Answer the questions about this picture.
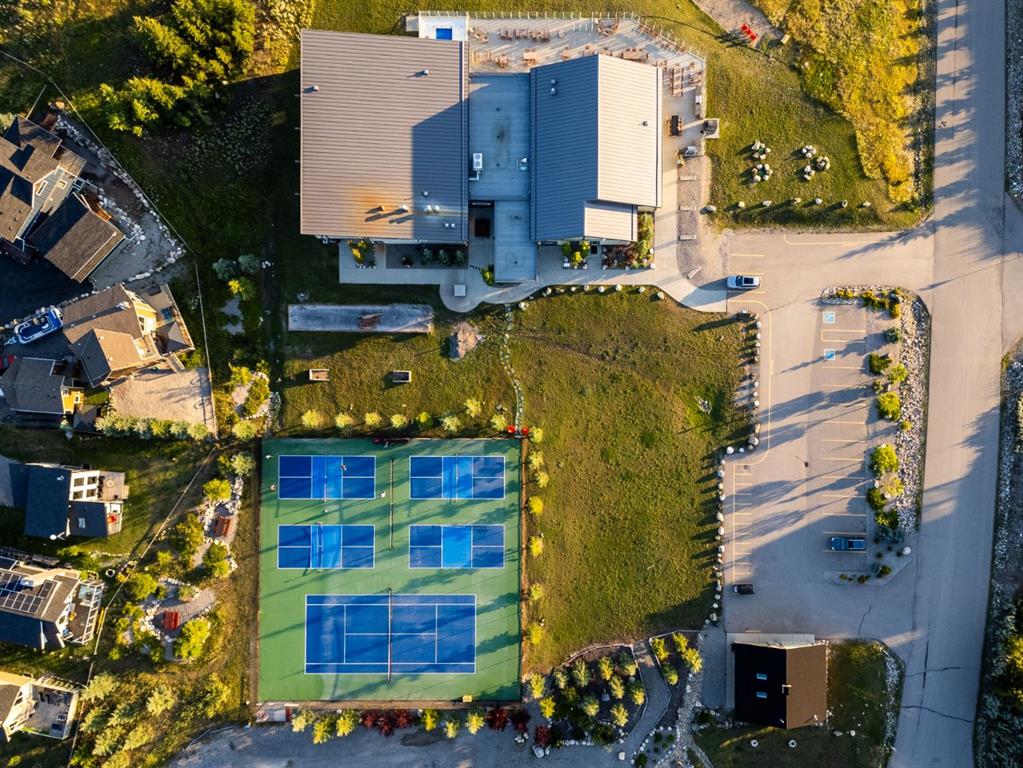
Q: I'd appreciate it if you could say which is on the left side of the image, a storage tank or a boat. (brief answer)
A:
boat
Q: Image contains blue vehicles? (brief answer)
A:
Yes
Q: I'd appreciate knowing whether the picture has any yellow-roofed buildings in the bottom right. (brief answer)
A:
No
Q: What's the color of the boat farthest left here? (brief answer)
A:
blue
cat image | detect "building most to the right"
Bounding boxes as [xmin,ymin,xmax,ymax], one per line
[732,636,827,729]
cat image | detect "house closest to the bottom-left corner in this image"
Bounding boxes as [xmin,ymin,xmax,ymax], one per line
[0,665,92,741]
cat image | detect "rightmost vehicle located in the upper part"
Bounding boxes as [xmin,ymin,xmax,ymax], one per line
[726,274,762,291]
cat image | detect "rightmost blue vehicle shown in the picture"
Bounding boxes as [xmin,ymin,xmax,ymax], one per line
[827,535,868,553]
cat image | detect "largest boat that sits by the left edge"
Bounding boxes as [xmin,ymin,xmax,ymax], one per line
[14,309,63,341]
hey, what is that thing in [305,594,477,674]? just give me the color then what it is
blue tennis court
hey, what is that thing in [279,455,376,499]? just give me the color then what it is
blue sports court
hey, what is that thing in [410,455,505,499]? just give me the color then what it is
blue sports court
